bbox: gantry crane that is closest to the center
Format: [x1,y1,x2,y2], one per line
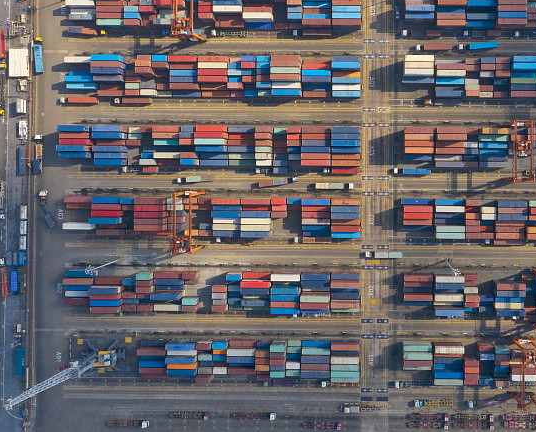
[171,190,207,257]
